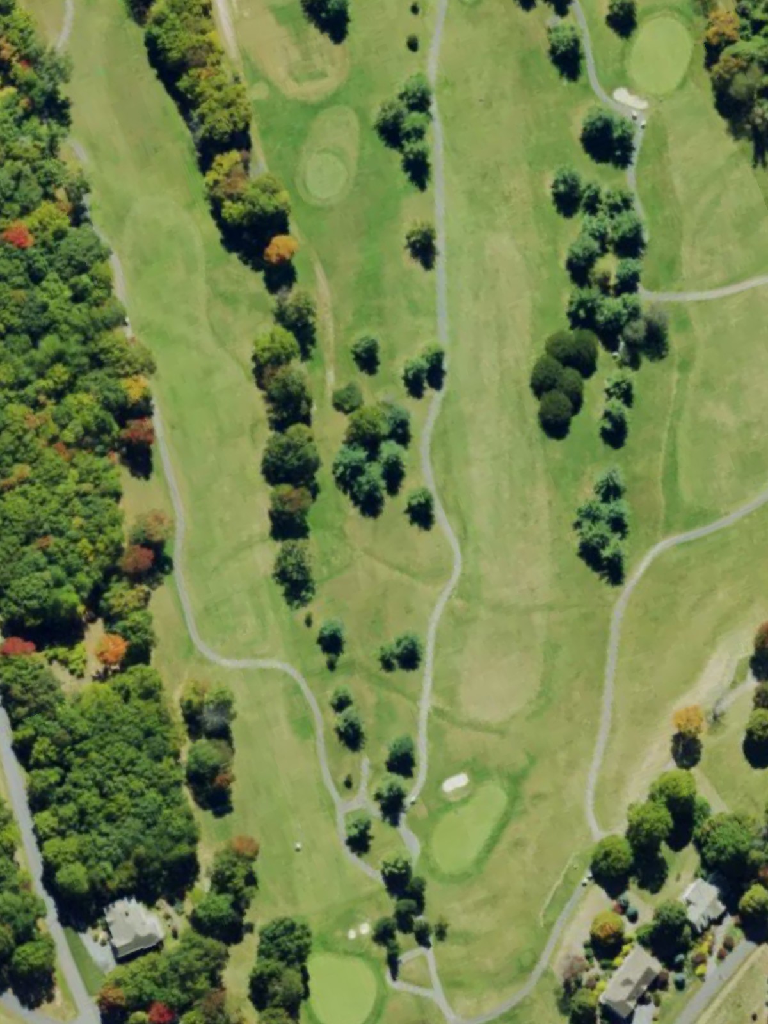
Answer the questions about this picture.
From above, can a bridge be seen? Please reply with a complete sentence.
No, no bridge can be seen from above.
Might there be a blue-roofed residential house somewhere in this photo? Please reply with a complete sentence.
No, no blue-roofed residential house is visible in the scene.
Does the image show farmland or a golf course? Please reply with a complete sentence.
This image shows a golf course.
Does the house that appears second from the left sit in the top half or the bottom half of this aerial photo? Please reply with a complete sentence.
You can find the house that appears second from the left in the bottom half.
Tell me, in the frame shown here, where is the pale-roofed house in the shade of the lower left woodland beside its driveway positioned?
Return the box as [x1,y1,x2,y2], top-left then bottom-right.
[104,894,165,955]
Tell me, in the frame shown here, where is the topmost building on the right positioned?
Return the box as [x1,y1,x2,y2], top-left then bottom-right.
[679,879,733,932]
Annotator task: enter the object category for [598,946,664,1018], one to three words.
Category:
house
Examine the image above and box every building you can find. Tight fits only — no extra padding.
[598,946,664,1018]
[679,879,733,932]
[104,894,165,955]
